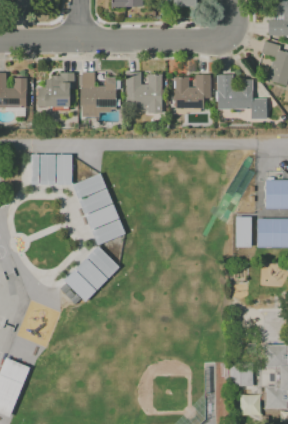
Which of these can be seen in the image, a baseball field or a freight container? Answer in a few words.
baseball field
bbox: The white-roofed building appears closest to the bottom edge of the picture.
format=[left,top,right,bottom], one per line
[240,396,260,416]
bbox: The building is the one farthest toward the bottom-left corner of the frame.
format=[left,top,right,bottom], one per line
[0,357,28,418]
